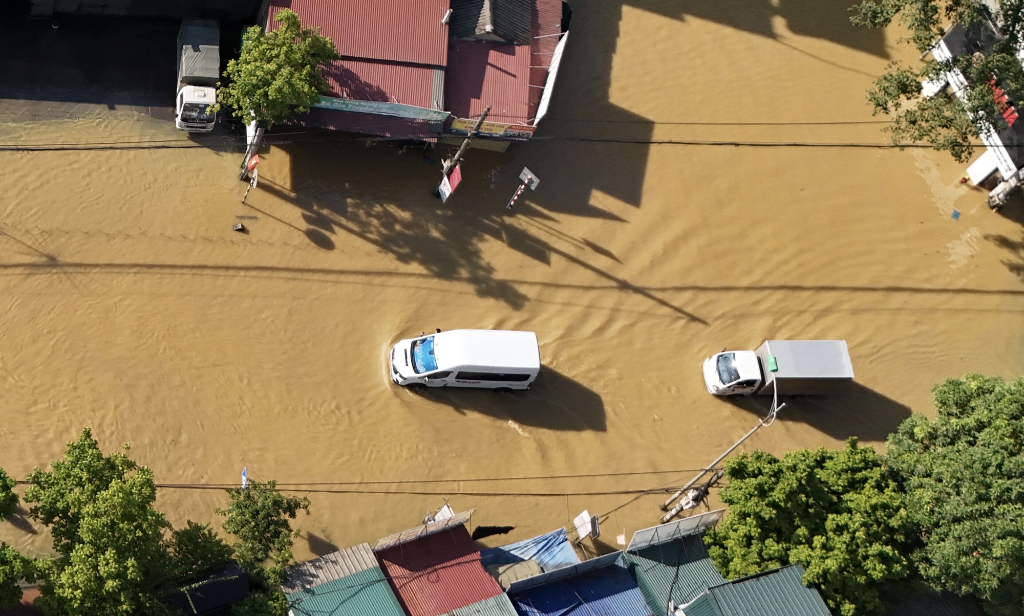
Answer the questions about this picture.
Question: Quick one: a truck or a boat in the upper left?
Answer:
truck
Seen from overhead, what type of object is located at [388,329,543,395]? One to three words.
van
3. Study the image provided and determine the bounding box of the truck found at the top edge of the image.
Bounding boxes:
[173,16,226,135]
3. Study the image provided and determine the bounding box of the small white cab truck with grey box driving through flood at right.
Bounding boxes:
[704,339,859,401]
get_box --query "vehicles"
[388,329,543,395]
[173,16,226,135]
[704,339,859,401]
